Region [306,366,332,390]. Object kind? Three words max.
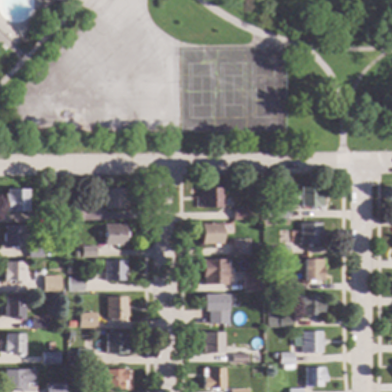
house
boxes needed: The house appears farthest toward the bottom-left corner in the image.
[6,370,36,392]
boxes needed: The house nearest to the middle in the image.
[196,187,226,210]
